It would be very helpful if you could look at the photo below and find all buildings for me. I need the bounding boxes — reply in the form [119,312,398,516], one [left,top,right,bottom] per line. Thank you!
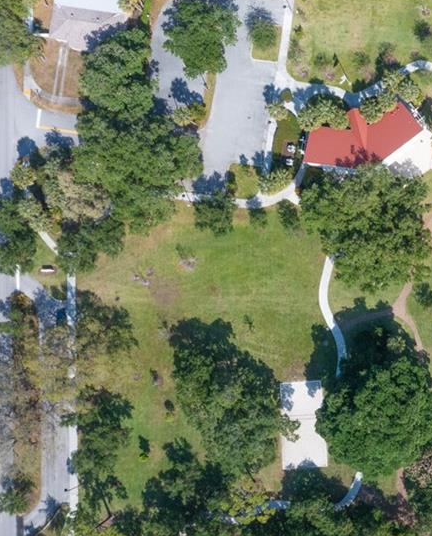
[303,102,423,170]
[38,0,127,54]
